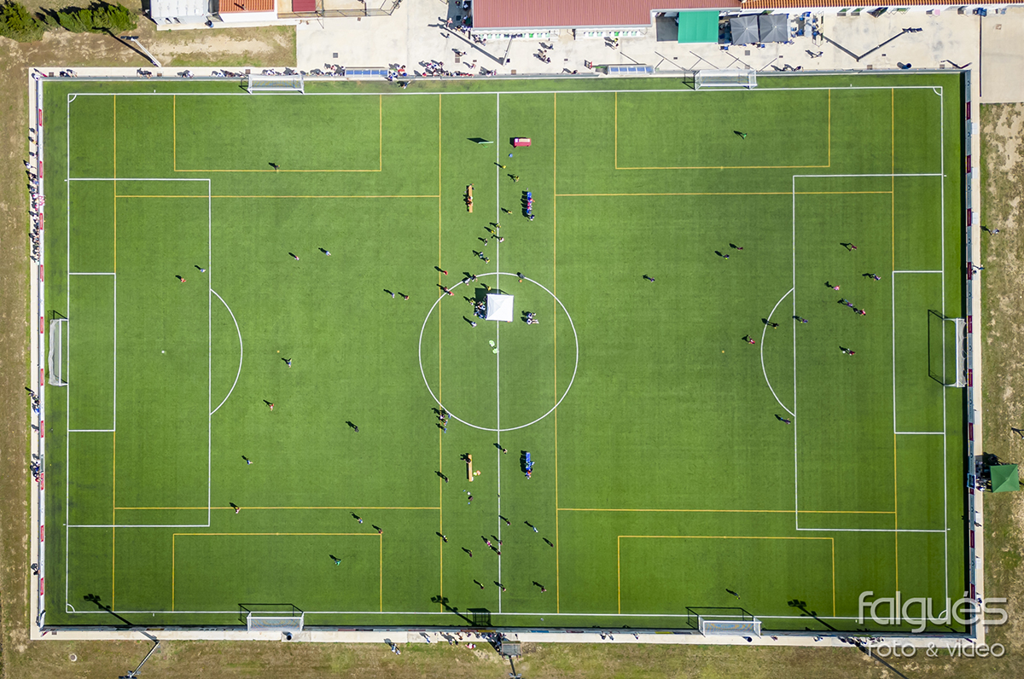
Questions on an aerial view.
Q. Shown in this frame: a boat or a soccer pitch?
soccer pitch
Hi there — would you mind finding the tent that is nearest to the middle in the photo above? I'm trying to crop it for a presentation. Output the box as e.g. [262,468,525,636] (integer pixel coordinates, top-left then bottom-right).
[485,294,514,322]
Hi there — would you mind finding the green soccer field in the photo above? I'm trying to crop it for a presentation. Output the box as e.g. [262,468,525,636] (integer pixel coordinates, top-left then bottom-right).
[43,73,971,633]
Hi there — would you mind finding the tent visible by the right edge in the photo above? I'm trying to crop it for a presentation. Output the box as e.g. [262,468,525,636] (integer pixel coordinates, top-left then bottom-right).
[980,461,1020,492]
